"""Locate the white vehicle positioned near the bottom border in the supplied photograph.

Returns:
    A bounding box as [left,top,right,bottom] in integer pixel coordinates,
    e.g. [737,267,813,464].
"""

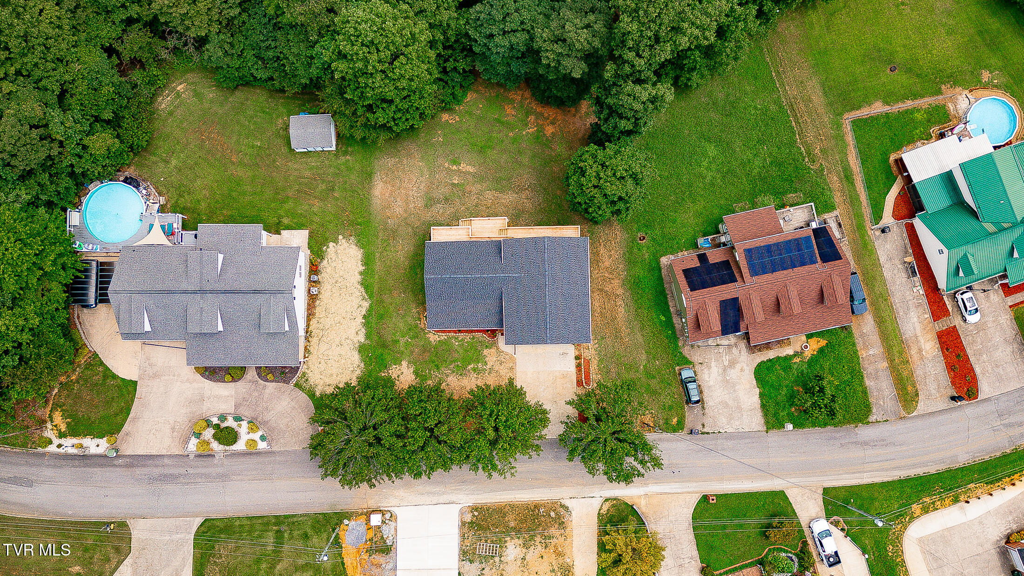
[809,516,845,571]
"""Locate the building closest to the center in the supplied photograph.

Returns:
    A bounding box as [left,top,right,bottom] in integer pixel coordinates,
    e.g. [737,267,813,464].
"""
[424,237,592,345]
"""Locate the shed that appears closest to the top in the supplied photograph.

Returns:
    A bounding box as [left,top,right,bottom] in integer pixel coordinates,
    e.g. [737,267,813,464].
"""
[290,114,337,153]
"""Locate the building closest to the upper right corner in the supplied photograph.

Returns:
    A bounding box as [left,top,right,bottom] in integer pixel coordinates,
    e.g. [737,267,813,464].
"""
[904,146,1024,293]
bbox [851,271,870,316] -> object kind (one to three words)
vehicle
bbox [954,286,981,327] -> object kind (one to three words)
car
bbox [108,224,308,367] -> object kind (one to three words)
house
